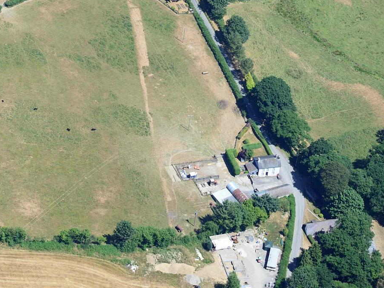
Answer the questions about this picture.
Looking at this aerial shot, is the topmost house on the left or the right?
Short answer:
right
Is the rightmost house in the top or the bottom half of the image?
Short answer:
bottom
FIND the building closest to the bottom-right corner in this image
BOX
[302,217,329,239]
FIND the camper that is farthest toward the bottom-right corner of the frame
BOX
[266,248,280,272]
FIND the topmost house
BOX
[244,151,283,178]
